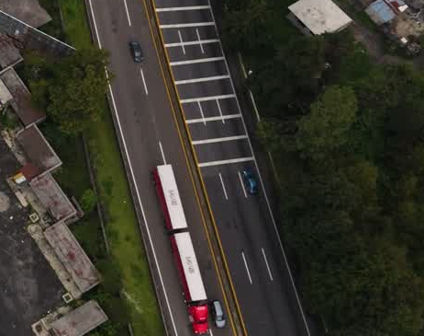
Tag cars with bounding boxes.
[241,170,259,196]
[128,40,142,64]
[209,300,226,328]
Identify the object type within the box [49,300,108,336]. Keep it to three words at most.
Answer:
building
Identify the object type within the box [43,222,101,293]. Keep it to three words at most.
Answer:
building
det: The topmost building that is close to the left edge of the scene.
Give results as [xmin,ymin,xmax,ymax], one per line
[0,0,51,28]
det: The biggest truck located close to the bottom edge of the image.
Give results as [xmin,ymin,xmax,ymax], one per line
[165,232,207,324]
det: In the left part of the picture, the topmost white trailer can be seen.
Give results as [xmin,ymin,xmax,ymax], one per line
[151,166,187,230]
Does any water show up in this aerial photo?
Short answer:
No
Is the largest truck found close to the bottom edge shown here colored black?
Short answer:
No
